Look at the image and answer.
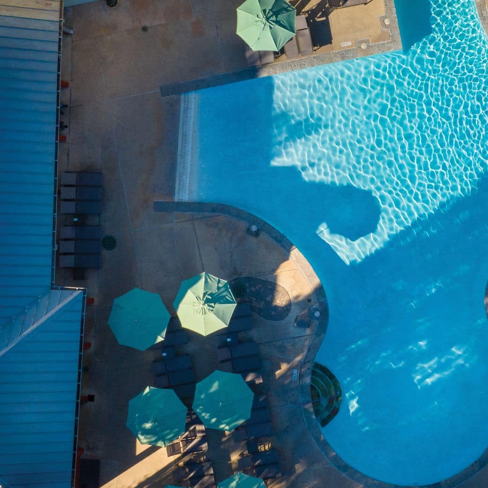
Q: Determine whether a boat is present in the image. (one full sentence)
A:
No, there's no boat here.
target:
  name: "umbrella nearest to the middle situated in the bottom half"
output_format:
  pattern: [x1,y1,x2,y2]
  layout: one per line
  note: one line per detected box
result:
[176,272,239,335]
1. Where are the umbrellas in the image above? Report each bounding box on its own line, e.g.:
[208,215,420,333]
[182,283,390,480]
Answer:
[129,385,188,446]
[176,272,239,335]
[219,470,269,488]
[194,369,256,429]
[238,0,297,51]
[110,287,173,351]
